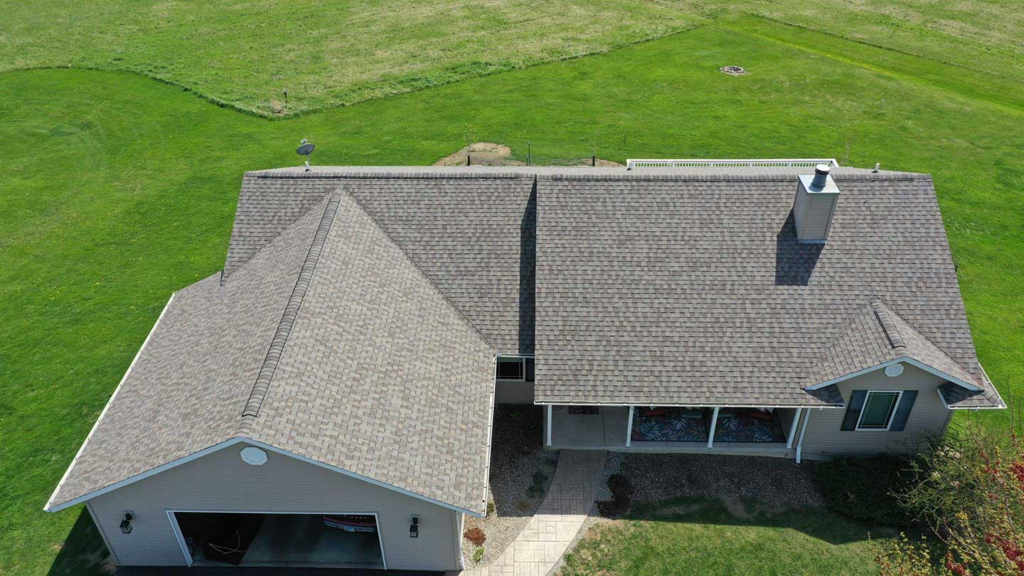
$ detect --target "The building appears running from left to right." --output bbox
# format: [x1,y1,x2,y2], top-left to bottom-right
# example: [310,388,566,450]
[40,163,1014,576]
